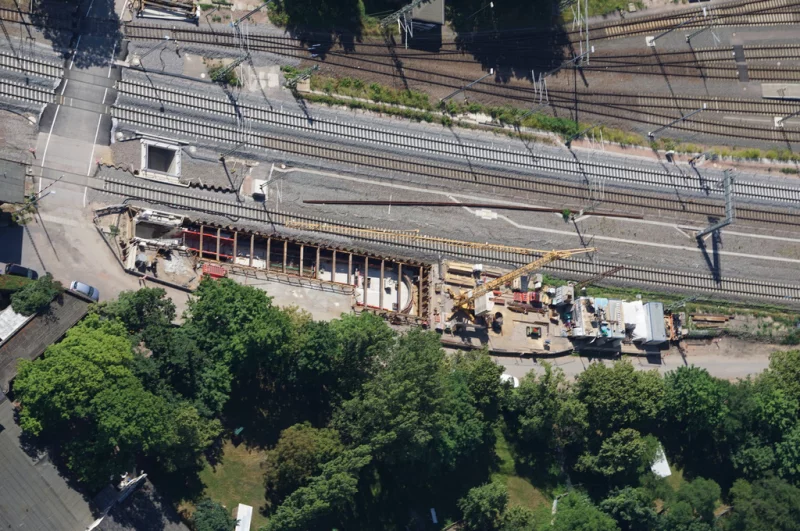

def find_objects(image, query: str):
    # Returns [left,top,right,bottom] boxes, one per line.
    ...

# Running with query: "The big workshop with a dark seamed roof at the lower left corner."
[0,391,96,531]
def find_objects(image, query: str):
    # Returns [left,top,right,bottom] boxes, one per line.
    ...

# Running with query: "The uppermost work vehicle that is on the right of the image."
[527,323,545,343]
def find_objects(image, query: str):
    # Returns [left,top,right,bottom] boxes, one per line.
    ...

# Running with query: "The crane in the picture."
[280,219,594,326]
